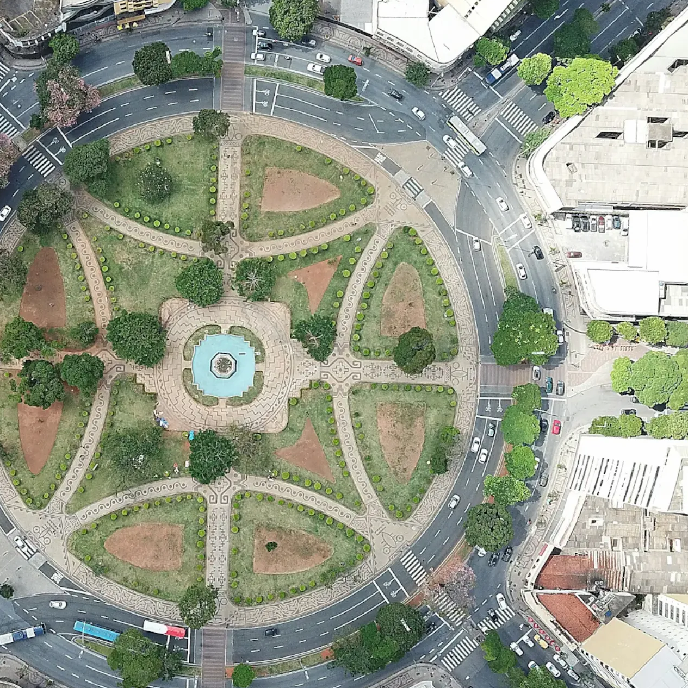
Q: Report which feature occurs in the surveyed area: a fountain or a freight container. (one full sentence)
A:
It is a fountain that can be seen here.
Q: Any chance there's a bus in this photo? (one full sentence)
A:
Yes, there is a bus in the image.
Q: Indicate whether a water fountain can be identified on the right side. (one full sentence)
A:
No, looking on the right side, there is no water fountain.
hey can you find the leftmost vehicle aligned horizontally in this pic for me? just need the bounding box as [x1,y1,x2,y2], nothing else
[0,624,47,642]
